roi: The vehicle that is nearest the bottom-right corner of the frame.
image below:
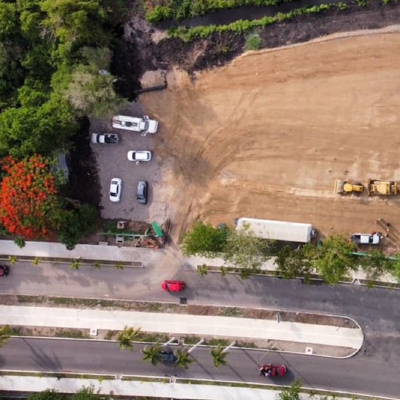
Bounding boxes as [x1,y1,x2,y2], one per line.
[259,364,287,377]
